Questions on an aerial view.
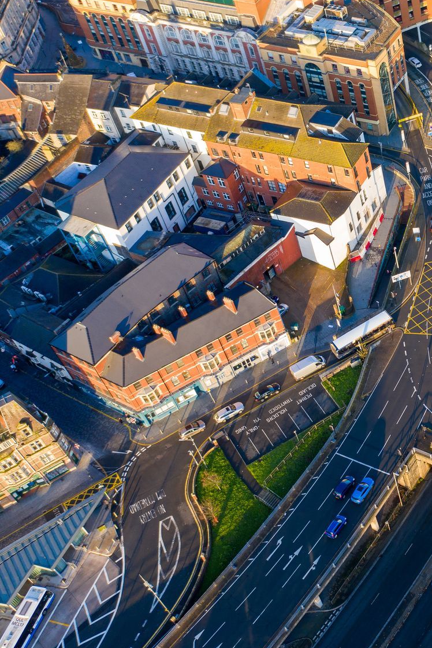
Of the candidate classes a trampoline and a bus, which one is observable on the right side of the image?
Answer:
bus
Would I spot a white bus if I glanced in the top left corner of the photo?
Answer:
No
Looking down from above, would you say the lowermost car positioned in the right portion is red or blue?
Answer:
blue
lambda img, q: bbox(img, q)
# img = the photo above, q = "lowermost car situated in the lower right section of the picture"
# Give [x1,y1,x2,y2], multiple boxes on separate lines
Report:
[324,515,348,540]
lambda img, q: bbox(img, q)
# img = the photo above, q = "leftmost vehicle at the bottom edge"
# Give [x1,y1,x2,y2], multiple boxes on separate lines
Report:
[0,585,55,648]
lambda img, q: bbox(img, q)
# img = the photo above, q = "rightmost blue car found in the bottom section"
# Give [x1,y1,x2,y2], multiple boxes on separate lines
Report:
[352,479,375,503]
